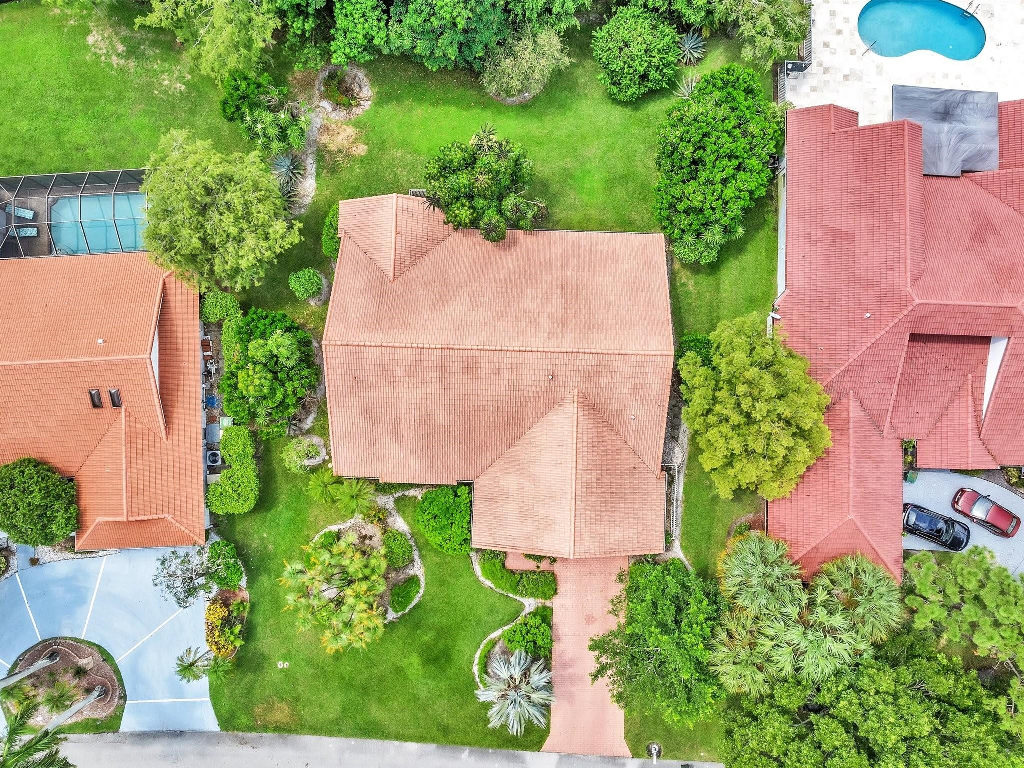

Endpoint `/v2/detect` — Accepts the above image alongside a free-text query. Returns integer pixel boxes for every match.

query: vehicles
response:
[903,501,981,554]
[955,488,1024,544]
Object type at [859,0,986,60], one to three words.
swimming pool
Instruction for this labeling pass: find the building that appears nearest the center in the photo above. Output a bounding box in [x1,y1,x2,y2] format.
[319,192,677,561]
